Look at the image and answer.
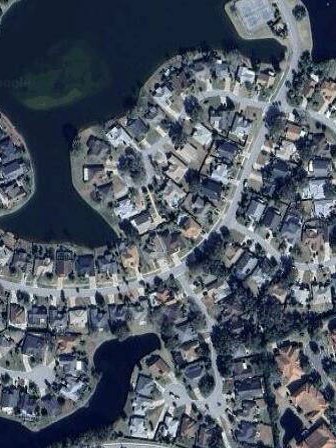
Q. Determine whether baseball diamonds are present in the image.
No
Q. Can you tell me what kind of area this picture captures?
residential area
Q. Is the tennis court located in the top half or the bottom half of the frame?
top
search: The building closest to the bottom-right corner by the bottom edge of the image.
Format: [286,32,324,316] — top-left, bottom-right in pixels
[296,422,336,448]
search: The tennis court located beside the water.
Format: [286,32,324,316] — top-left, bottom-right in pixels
[231,0,275,36]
